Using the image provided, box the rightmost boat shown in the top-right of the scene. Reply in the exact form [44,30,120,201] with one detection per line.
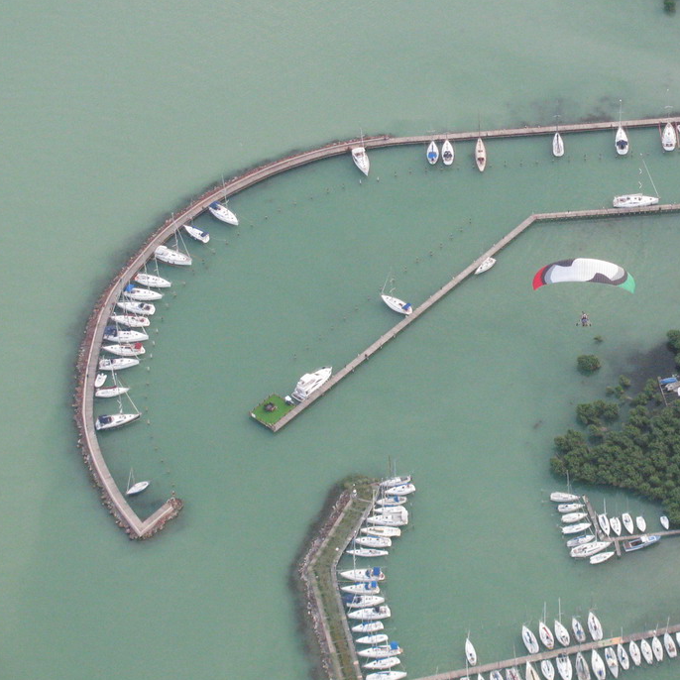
[661,100,677,152]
